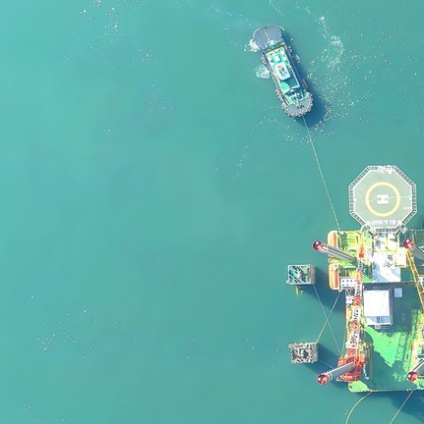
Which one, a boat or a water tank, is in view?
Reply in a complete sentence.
Looking from above, you can make out a boat.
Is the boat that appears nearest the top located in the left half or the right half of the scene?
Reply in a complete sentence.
The boat that appears nearest the top is on the right side of the image.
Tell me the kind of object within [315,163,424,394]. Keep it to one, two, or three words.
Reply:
vessel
